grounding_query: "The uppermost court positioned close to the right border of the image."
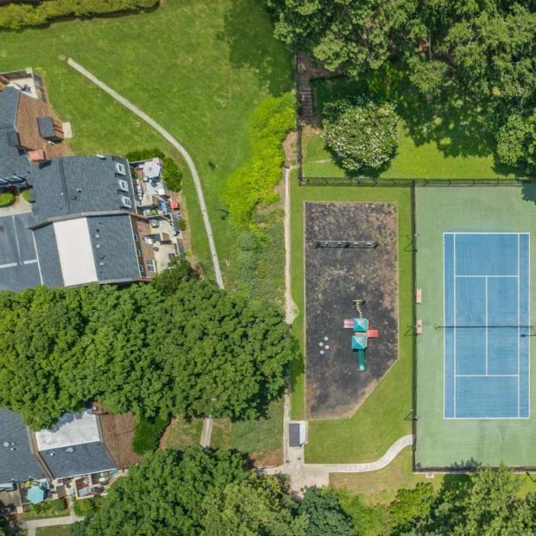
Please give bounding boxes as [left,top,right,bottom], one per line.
[417,186,536,465]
